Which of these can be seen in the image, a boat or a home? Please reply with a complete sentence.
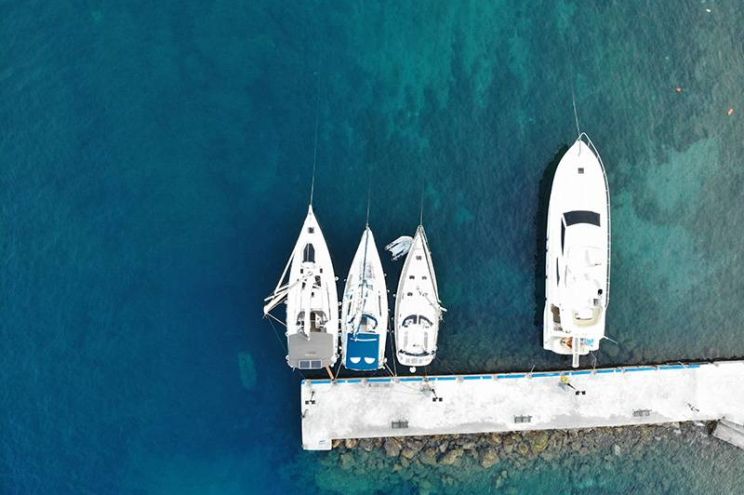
The image shows a boat.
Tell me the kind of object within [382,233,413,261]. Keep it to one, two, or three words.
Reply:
boat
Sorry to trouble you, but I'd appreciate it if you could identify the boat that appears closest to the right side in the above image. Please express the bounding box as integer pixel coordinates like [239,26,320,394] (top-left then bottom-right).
[543,89,617,374]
